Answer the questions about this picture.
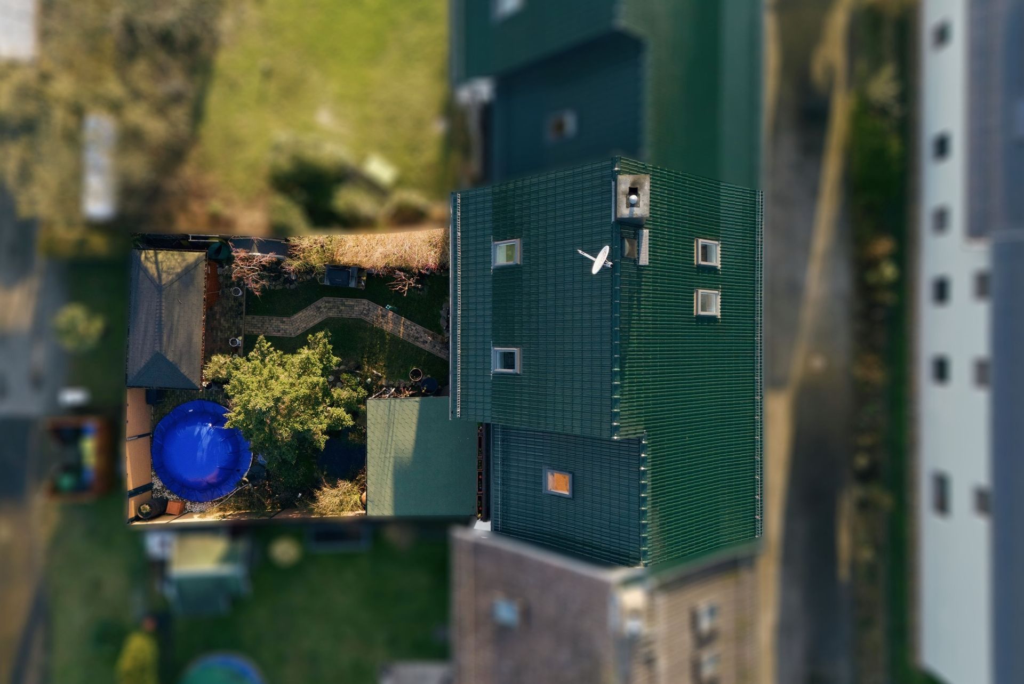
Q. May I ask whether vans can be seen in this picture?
No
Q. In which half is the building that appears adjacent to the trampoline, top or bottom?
bottom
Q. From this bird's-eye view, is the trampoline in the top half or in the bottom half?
bottom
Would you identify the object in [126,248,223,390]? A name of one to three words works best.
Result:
shed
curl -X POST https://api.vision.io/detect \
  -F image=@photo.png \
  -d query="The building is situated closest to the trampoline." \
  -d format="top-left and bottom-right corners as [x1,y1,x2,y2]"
[166,528,261,615]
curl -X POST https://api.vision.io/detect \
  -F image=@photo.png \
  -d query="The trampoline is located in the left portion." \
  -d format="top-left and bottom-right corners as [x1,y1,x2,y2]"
[183,649,268,684]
